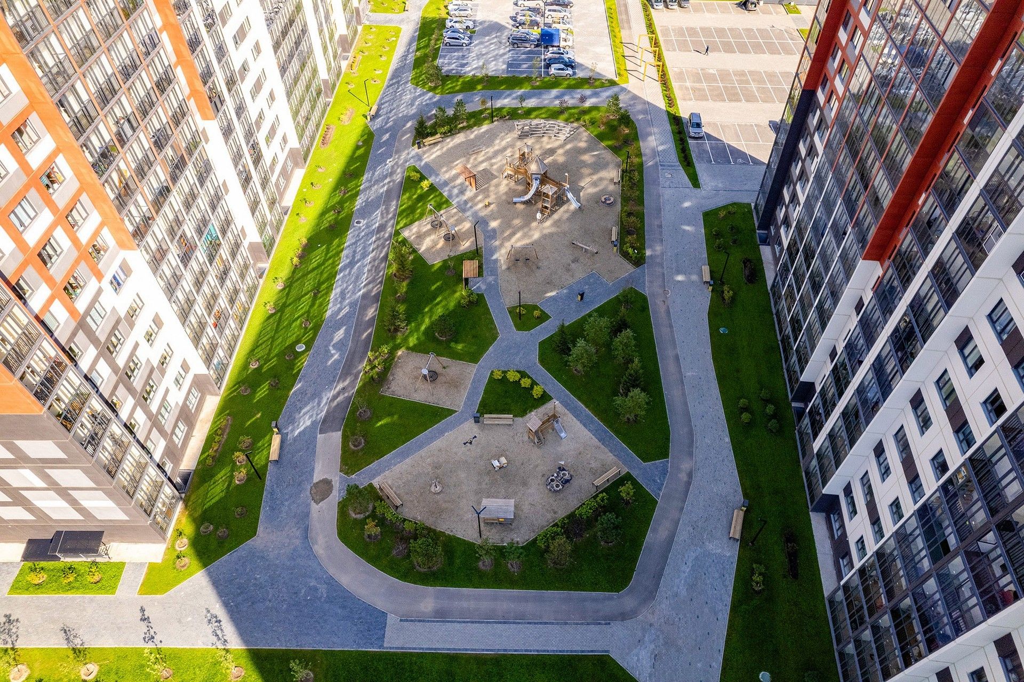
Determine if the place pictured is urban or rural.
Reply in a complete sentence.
It looks urban.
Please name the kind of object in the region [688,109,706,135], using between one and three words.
car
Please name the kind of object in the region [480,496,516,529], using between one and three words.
shed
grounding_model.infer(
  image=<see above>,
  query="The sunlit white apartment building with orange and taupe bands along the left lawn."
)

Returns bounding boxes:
[0,0,371,544]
